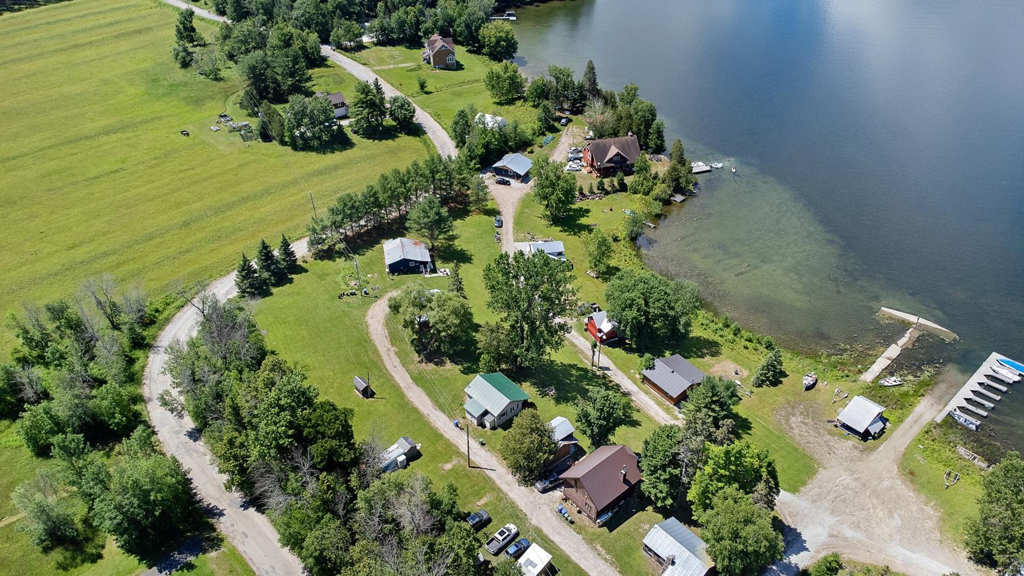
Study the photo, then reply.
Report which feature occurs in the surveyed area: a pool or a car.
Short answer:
car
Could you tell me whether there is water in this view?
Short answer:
Yes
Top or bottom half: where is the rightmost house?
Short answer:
bottom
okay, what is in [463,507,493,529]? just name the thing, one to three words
car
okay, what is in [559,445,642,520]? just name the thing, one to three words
house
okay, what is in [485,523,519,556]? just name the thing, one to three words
truck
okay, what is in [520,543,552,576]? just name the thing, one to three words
shed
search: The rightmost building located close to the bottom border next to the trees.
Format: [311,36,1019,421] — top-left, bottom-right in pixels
[639,519,718,576]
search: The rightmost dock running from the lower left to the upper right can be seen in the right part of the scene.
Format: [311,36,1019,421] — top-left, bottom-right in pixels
[933,352,1024,425]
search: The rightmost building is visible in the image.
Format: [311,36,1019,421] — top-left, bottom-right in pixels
[837,395,885,446]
